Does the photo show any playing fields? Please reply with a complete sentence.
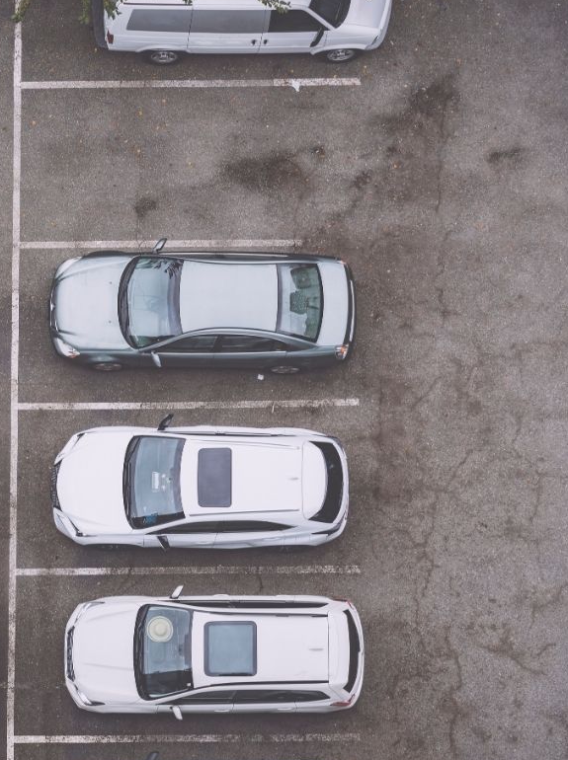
No, the frame has no playing field in it.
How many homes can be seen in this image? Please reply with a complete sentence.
The count of homes is 0.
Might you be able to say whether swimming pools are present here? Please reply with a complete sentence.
No, no swimming pool can be seen from above.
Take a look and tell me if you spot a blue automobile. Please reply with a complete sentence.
No, the scene contains no blue automobile.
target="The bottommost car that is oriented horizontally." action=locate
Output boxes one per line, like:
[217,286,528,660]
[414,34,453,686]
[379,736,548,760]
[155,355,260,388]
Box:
[64,582,366,721]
